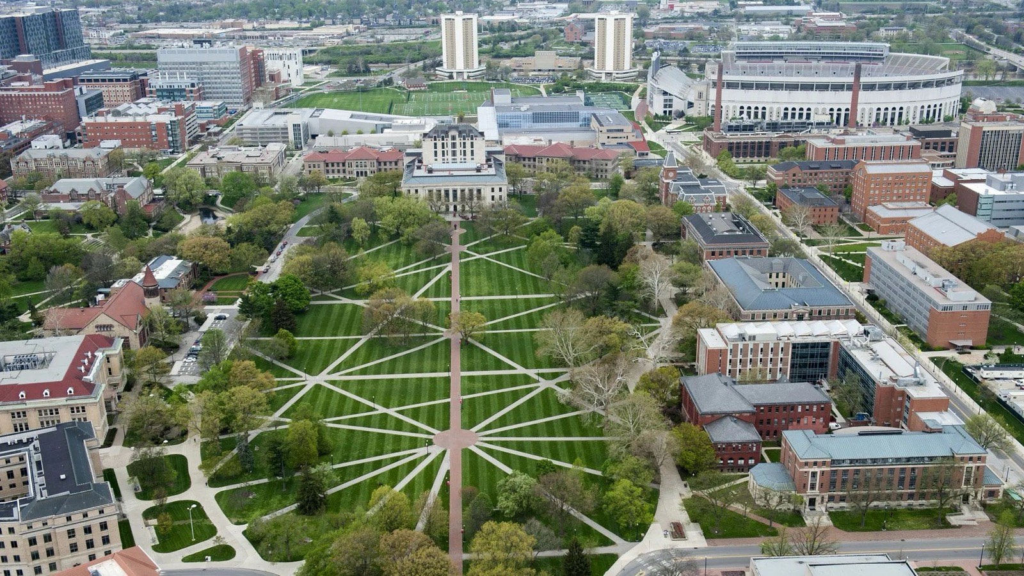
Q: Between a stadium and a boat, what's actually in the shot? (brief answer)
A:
stadium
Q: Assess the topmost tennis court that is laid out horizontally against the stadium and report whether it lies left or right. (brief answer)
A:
to its left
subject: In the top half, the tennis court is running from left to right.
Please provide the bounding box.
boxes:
[579,91,633,111]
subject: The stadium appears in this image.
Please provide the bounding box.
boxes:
[645,41,967,126]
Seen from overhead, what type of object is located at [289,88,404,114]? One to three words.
sports field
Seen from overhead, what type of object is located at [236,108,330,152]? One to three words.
building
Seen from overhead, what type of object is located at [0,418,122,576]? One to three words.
building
